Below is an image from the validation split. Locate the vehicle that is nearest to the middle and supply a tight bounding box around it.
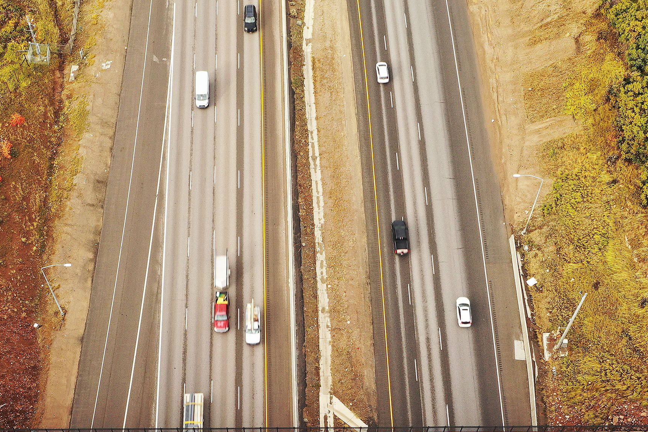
[392,220,409,259]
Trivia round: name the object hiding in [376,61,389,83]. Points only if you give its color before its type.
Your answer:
white vehicle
